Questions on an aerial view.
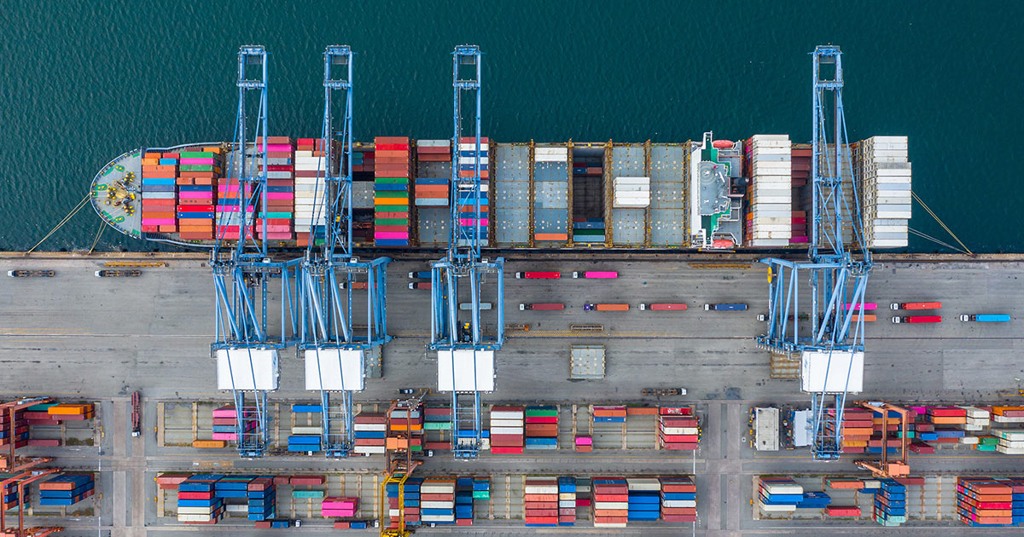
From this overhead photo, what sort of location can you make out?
port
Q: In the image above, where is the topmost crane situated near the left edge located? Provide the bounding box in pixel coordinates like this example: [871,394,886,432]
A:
[0,393,56,473]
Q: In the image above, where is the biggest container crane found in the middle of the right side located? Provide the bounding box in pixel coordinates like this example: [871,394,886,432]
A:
[745,44,876,461]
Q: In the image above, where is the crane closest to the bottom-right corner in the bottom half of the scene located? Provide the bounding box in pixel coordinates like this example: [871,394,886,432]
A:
[851,397,910,481]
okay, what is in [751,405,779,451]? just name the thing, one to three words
shed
